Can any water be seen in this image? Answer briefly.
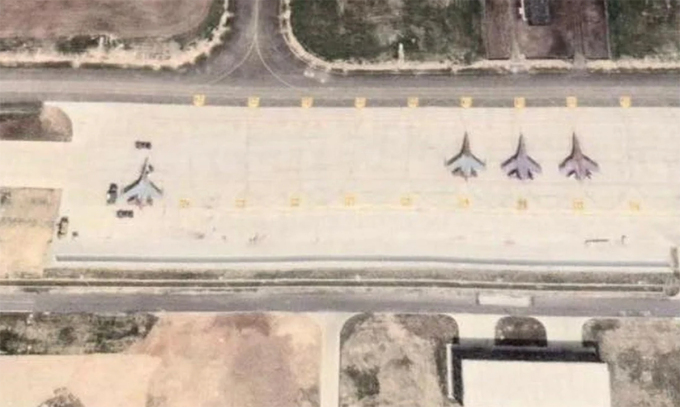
No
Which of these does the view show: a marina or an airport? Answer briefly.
airport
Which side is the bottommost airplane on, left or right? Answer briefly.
left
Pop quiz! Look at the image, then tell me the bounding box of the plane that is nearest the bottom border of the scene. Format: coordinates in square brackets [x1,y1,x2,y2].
[122,158,162,208]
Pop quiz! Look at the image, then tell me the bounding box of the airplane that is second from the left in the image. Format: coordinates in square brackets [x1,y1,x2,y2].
[446,131,487,181]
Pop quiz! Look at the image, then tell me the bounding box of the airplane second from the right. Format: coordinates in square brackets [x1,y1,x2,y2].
[501,131,542,181]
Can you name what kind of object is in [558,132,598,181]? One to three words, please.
airplane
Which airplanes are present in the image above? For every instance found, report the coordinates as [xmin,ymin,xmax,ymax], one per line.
[558,132,598,181]
[501,131,542,181]
[122,158,162,208]
[446,131,487,181]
